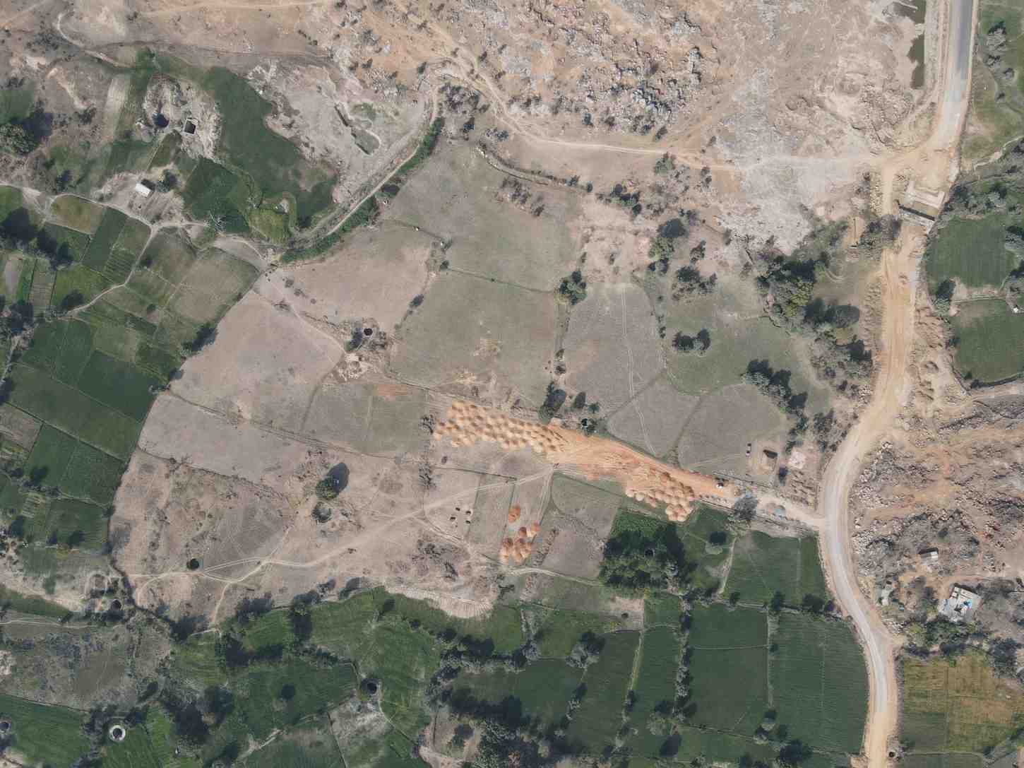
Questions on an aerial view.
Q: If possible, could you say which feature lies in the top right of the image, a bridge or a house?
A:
bridge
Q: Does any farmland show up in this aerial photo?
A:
Yes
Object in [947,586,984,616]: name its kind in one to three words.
house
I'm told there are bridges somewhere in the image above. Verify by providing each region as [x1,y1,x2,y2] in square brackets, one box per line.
[899,183,945,233]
